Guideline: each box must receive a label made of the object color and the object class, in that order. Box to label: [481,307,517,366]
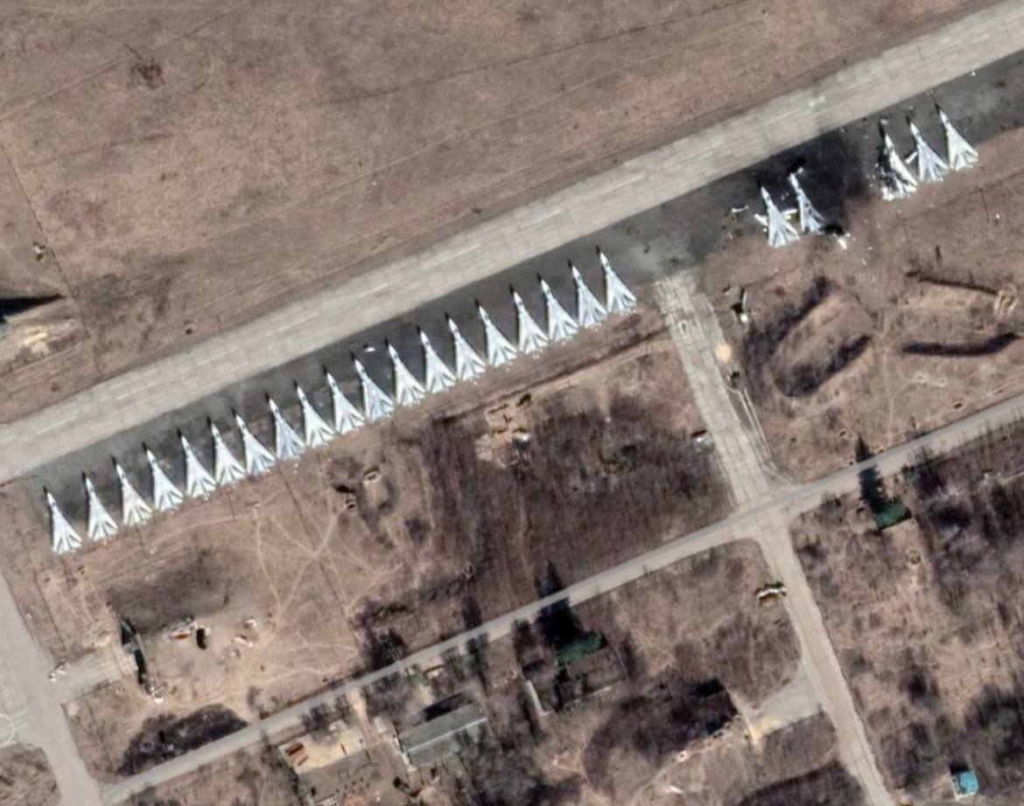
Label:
white airplane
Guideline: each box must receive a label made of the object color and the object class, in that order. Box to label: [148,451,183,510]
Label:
white airplane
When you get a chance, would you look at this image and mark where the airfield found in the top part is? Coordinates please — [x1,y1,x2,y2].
[0,0,1024,560]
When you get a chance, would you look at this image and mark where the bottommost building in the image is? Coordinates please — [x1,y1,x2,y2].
[948,768,976,794]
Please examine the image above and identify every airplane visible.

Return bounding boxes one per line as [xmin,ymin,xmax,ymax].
[762,184,797,246]
[421,327,456,391]
[940,112,977,170]
[299,387,335,447]
[601,250,636,313]
[237,415,275,474]
[182,435,215,497]
[791,173,827,232]
[117,465,151,525]
[390,344,426,404]
[450,317,486,378]
[886,135,917,192]
[148,451,183,510]
[515,290,549,352]
[327,369,365,432]
[212,425,245,485]
[542,277,579,339]
[575,267,608,326]
[85,474,117,539]
[481,307,517,366]
[271,399,305,459]
[911,124,948,182]
[356,358,394,418]
[46,490,80,553]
